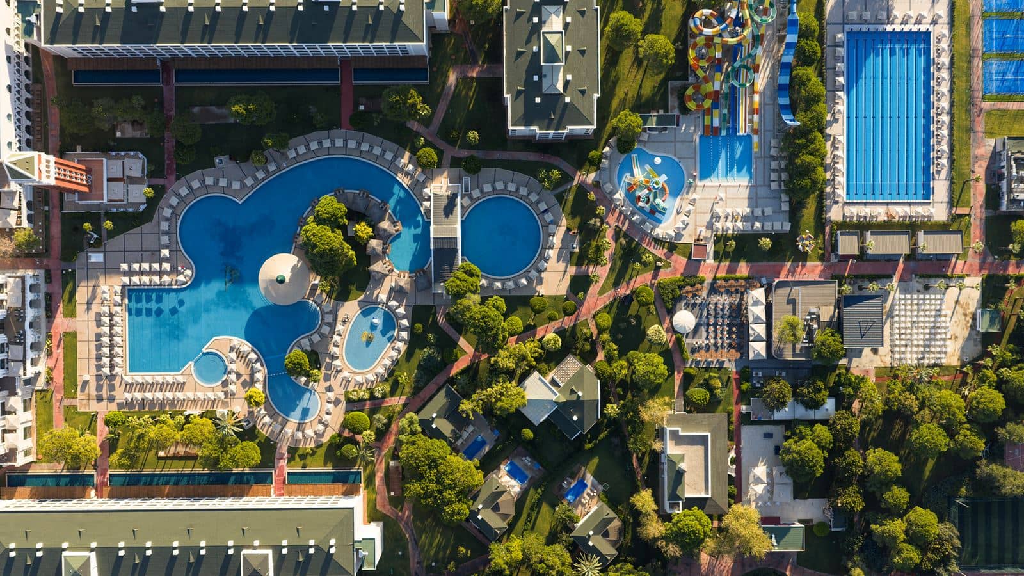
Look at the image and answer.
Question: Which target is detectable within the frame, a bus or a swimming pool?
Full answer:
I can see a swimming pool in this picture.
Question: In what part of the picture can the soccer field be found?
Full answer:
You can find the soccer field in the bottom right area of the picture.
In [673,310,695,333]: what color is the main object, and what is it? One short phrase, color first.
white umbrella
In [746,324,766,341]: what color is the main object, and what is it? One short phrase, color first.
white tent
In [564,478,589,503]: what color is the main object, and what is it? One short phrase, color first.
blue swimming pool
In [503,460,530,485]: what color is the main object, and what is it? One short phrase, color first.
blue swimming pool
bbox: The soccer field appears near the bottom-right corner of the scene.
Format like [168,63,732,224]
[958,498,1024,571]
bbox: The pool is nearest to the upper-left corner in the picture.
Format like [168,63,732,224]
[72,69,162,86]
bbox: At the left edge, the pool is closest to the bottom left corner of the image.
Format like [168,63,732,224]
[6,473,96,487]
